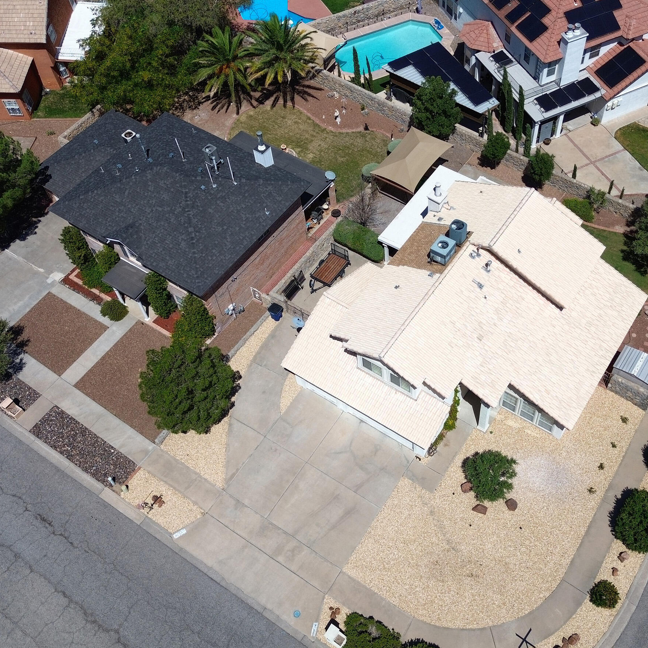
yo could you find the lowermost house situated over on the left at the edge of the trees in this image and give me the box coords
[26,110,337,332]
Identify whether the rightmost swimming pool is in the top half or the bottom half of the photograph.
top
